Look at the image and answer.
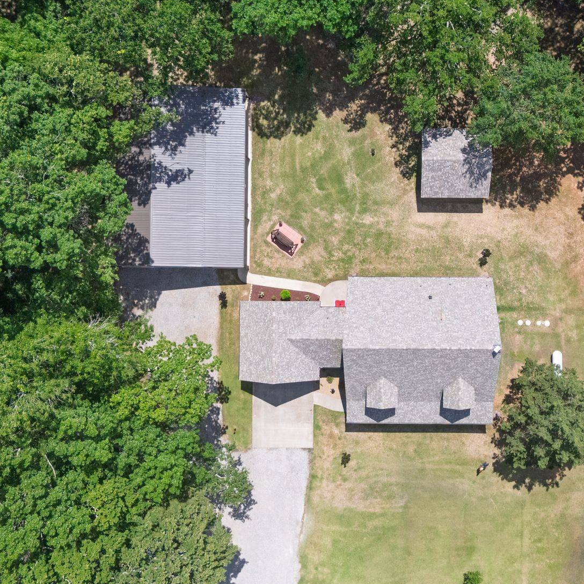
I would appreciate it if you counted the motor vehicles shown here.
none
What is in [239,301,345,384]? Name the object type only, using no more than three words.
building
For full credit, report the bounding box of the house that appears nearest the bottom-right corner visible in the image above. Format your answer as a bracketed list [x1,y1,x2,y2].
[342,275,501,425]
